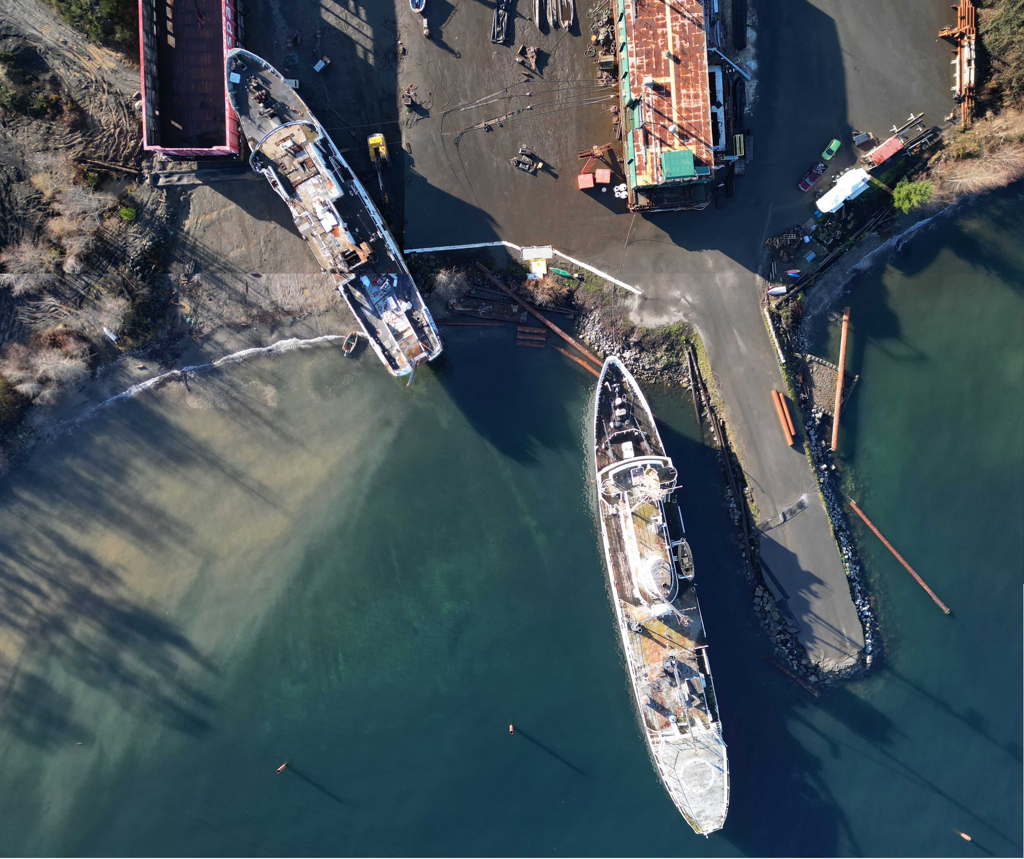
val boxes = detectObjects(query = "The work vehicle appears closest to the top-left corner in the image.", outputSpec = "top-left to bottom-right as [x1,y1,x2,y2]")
[367,133,393,206]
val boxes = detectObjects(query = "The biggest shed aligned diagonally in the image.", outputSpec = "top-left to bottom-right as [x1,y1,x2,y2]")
[860,136,904,170]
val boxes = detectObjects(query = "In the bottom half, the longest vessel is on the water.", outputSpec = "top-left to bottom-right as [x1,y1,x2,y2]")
[593,355,730,839]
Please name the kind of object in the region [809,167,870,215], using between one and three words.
camper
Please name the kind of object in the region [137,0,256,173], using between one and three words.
ship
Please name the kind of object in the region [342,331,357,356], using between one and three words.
boat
